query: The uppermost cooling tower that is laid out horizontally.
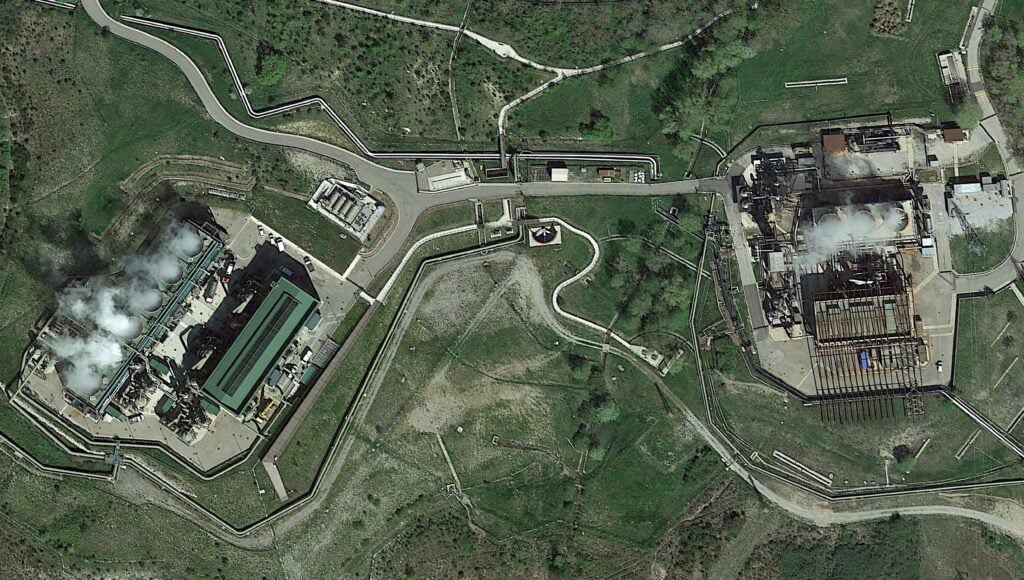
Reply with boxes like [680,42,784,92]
[811,199,917,247]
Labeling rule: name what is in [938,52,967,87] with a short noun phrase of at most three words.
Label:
house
